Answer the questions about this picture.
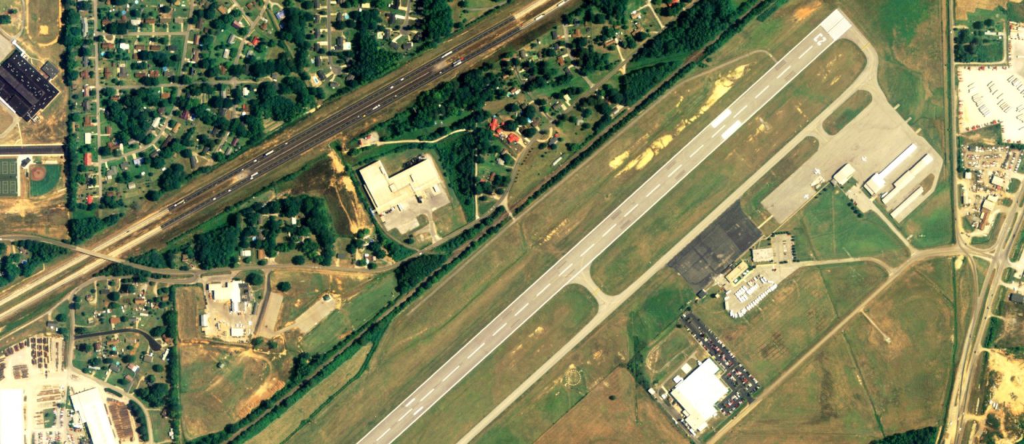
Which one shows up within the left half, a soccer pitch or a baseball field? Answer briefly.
baseball field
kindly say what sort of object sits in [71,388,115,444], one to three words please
building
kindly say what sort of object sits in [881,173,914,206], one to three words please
hangar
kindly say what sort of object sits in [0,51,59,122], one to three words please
building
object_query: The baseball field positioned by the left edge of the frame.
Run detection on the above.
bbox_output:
[29,164,61,198]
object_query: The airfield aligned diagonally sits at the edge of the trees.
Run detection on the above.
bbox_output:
[357,9,943,444]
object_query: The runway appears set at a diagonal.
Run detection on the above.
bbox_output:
[357,9,852,444]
